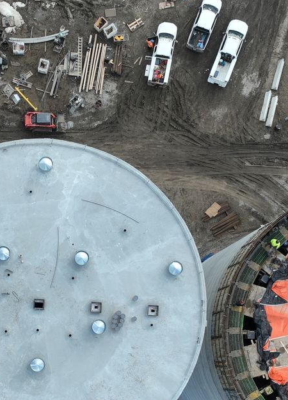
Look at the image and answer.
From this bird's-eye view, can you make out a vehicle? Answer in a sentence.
Yes, I can see a vehicle in this picture.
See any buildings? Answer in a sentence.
No, the frame has no building in it.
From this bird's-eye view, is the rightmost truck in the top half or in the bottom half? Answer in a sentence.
Seen from above, the rightmost truck lies in the top half of the view.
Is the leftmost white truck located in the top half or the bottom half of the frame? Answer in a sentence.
You can find the leftmost white truck in the top half.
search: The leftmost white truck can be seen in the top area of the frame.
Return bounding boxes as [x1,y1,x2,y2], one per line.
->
[142,20,179,92]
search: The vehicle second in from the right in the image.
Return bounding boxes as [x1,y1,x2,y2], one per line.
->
[185,0,222,57]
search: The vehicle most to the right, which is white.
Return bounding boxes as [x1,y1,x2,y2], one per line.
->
[206,18,248,95]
